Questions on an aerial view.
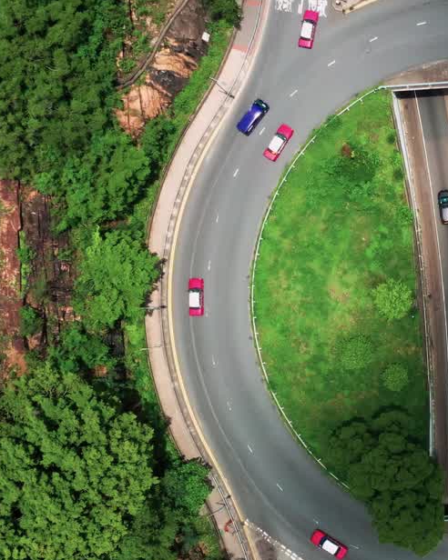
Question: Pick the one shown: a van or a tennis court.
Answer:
van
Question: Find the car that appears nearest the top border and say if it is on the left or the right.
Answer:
right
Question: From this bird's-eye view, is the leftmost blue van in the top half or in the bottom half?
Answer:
top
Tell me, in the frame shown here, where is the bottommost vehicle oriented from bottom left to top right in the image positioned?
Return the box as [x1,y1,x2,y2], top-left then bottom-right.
[264,123,294,163]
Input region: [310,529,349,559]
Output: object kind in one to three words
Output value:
car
